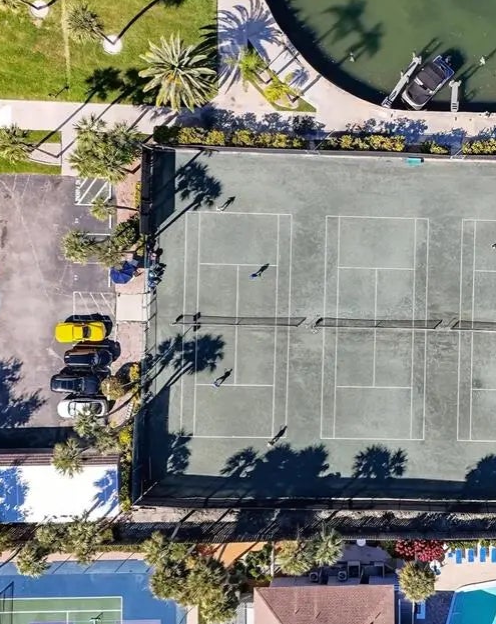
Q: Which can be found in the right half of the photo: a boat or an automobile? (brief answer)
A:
boat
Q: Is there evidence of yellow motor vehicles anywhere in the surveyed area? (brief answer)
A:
Yes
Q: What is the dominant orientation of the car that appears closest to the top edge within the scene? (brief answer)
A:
from side to side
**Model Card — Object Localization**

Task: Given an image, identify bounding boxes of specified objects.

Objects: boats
[411,52,456,108]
